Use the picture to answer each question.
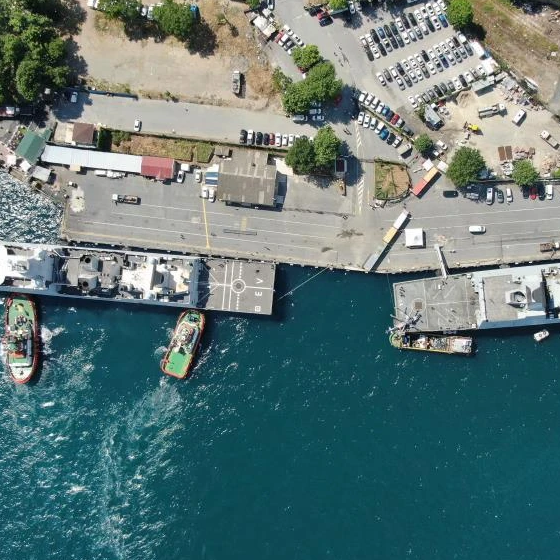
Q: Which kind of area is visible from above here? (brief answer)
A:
port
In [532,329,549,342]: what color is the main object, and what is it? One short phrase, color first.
white boat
